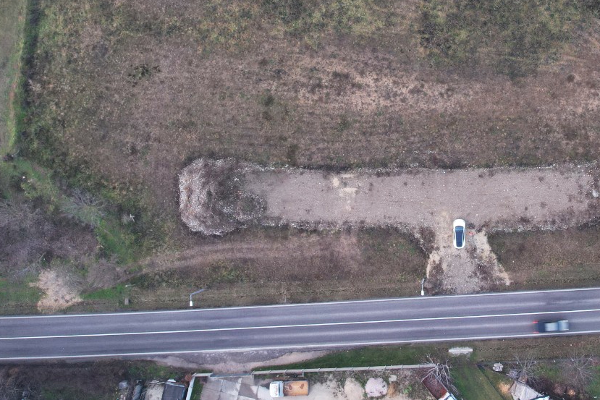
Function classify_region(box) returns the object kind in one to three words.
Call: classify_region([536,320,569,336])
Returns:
car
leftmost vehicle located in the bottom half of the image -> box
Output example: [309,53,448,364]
[268,380,310,400]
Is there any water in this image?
No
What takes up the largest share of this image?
grass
